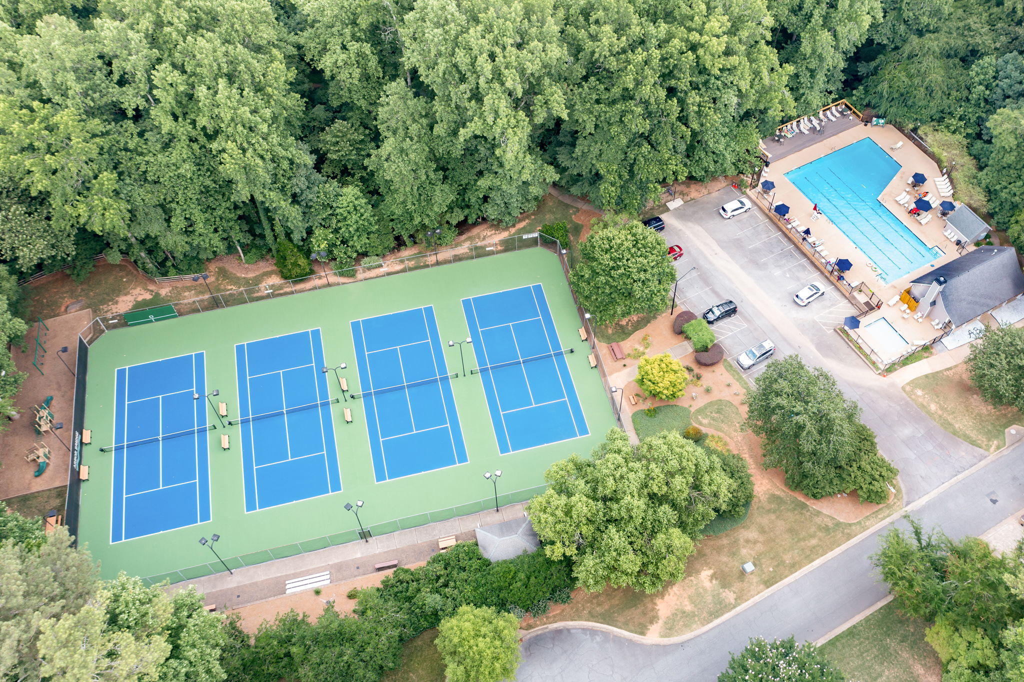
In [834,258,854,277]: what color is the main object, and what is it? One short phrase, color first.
blue umbrella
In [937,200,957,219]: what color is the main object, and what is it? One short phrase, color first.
blue umbrella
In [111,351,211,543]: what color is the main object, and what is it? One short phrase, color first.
blue tennis court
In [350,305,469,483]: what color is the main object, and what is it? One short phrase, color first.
blue tennis court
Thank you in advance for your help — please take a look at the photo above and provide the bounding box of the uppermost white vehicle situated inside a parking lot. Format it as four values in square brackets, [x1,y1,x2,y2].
[720,199,754,219]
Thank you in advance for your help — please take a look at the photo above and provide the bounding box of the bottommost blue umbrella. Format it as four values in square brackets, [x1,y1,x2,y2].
[841,315,862,336]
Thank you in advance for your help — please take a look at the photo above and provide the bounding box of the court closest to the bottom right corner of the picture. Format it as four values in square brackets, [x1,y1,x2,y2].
[461,283,590,455]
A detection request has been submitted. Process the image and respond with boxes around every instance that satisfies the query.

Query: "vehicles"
[795,282,828,307]
[638,216,666,234]
[655,245,686,266]
[703,300,741,325]
[720,199,754,219]
[738,341,777,370]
